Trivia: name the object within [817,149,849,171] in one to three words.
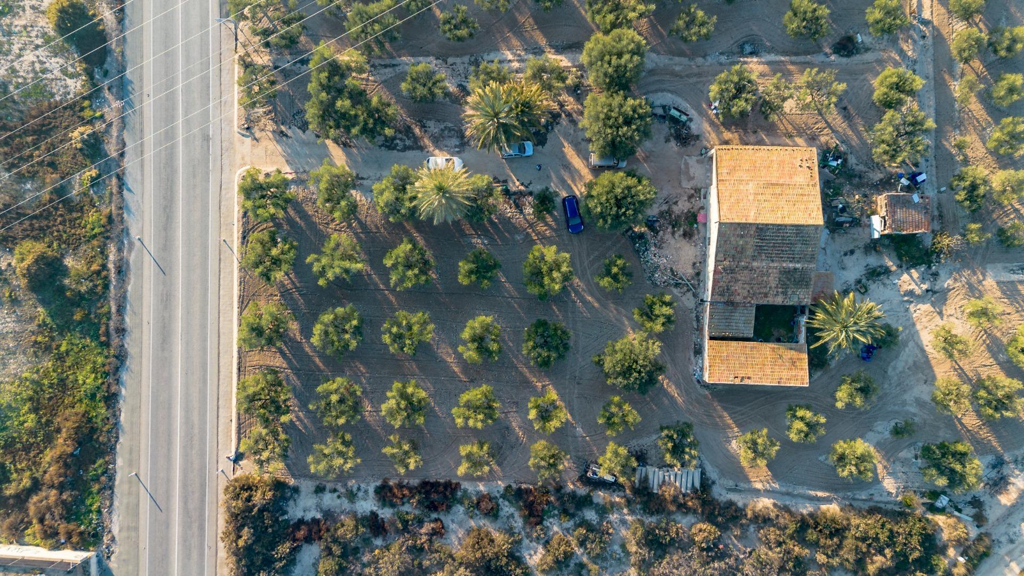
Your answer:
work vehicle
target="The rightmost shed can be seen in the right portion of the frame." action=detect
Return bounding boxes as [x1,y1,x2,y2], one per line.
[872,194,931,234]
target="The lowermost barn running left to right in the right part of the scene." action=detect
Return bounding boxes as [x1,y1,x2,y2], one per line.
[696,340,810,388]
